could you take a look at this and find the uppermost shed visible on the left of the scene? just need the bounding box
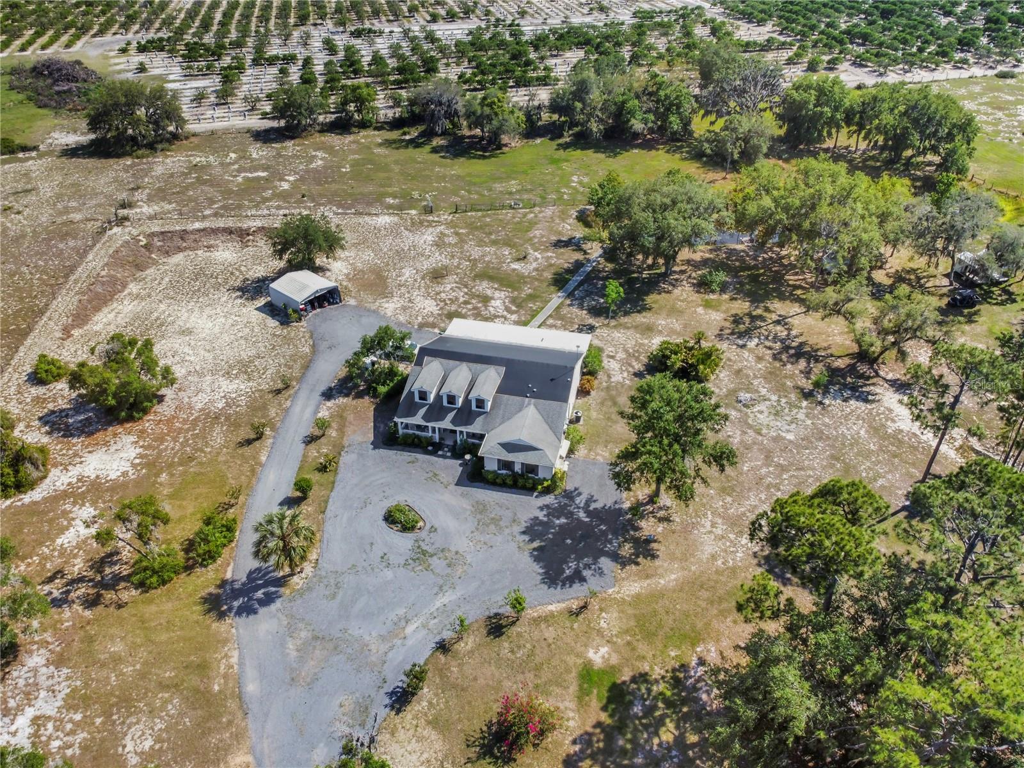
[266,267,343,320]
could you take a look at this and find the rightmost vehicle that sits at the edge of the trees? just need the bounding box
[952,288,985,307]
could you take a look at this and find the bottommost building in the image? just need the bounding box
[392,319,592,481]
